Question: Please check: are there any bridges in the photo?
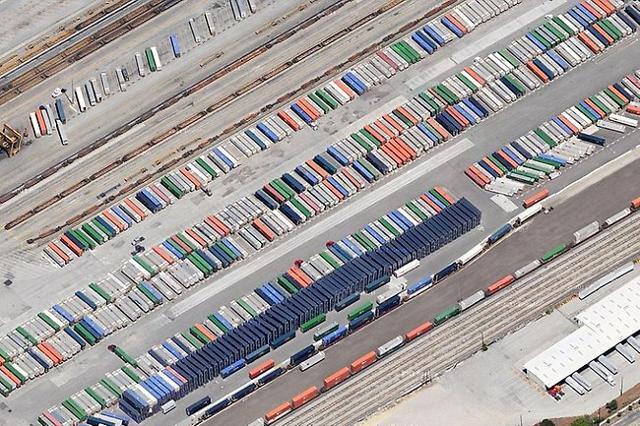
No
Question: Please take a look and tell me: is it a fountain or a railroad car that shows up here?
railroad car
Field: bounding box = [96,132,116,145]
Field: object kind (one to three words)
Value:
rail car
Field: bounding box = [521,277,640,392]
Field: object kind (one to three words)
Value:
warehouse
